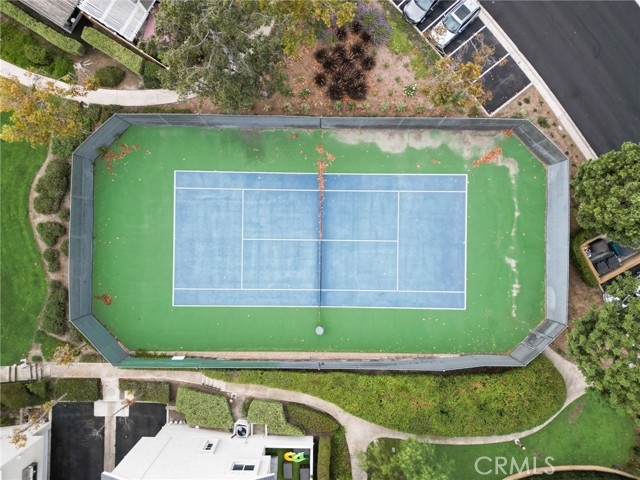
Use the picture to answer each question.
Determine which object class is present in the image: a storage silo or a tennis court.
tennis court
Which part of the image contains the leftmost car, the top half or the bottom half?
top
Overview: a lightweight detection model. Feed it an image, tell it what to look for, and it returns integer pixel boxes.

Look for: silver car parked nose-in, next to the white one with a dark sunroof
[403,0,442,24]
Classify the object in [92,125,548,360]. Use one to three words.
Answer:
tennis court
